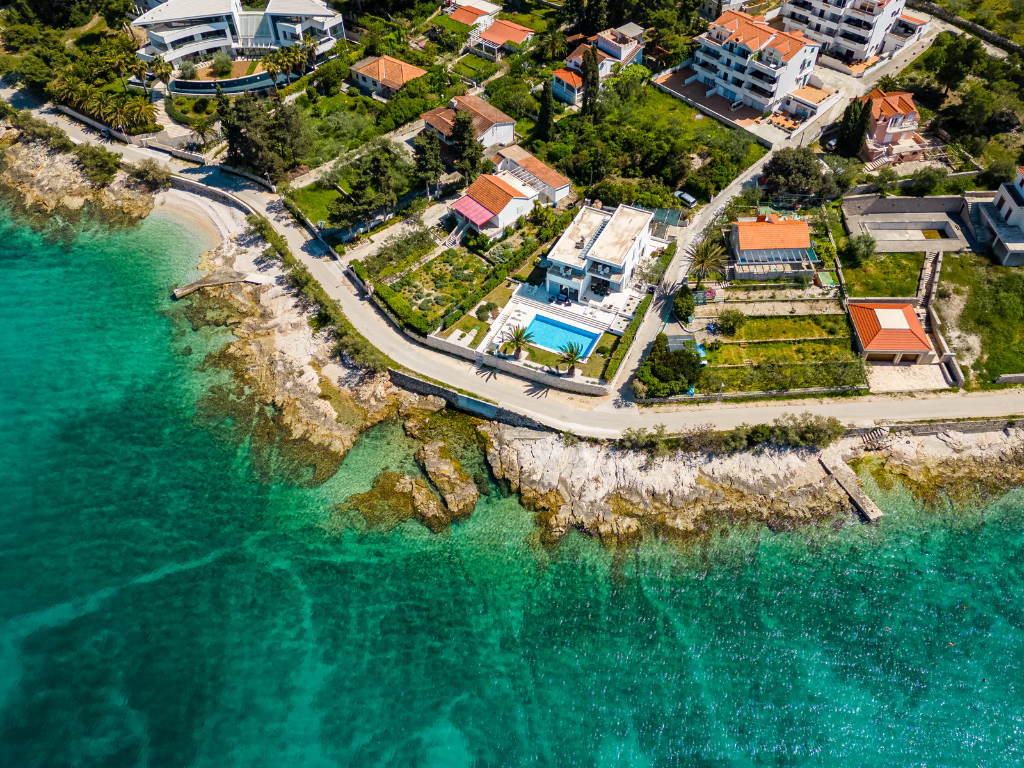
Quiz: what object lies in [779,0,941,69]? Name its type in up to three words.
building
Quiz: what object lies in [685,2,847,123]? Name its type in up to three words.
building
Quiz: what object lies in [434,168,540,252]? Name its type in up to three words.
house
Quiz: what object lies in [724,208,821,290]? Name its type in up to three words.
house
